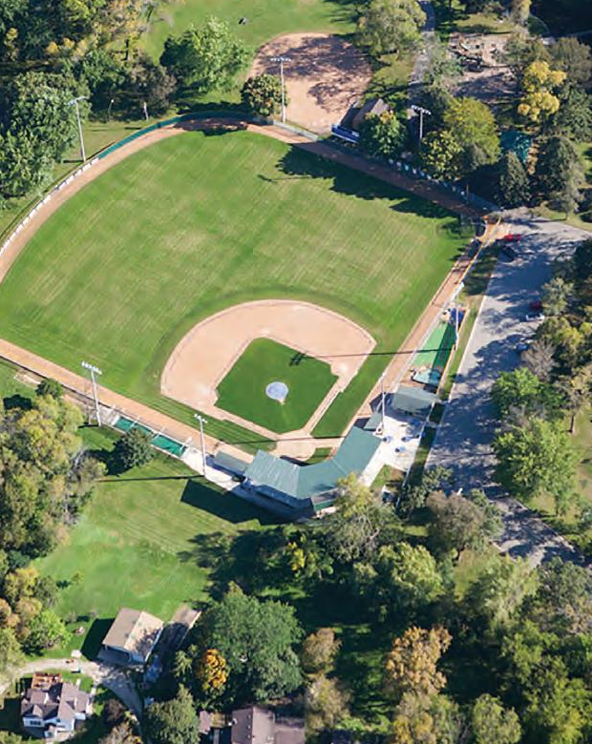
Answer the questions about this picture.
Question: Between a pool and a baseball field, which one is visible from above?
baseball field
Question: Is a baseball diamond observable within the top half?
Yes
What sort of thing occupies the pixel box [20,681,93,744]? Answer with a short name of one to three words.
house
